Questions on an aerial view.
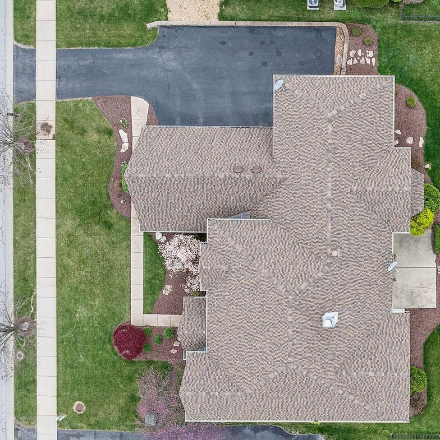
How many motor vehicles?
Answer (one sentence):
There are no motor vehicles in this view.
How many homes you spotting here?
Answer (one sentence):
Only 1 home is visible.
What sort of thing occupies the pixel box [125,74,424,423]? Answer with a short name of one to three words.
house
